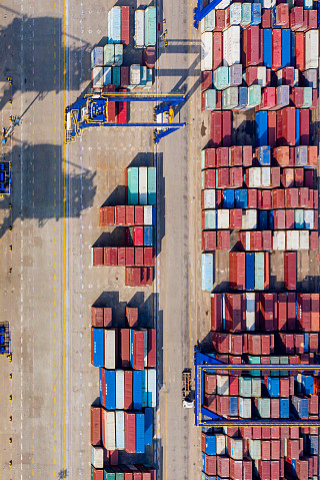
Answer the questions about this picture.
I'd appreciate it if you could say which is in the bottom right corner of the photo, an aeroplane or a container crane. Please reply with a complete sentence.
The feature located in the bottom right corner of the photo is a container crane.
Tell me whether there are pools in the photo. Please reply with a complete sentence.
No, this view has no pool in it.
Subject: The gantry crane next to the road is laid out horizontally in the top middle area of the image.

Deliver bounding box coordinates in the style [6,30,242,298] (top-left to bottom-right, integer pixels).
[65,91,188,145]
